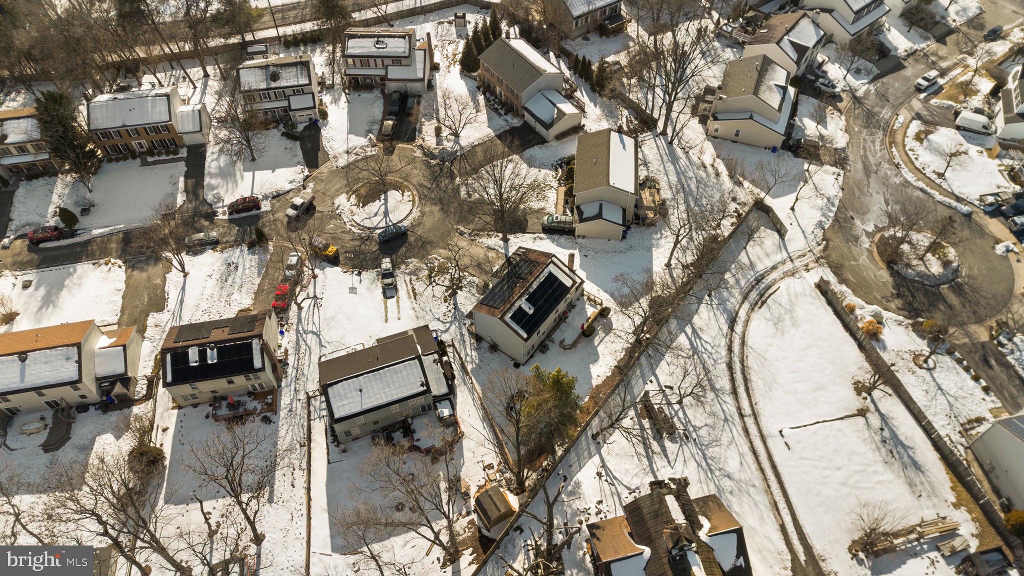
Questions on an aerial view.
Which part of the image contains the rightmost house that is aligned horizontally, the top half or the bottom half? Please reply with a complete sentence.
The rightmost house that is aligned horizontally is in the top half of the image.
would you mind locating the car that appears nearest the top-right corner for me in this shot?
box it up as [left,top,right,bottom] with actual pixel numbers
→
[982,26,1004,41]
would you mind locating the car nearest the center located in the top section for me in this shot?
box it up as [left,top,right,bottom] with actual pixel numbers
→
[541,216,575,234]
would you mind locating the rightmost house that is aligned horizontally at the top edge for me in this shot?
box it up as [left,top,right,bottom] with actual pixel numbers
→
[797,0,893,47]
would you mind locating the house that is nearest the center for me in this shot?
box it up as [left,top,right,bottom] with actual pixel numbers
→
[469,245,585,362]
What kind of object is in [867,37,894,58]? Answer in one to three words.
car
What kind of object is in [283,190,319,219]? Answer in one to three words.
truck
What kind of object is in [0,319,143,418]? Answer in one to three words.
house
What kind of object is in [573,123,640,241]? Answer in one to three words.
house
